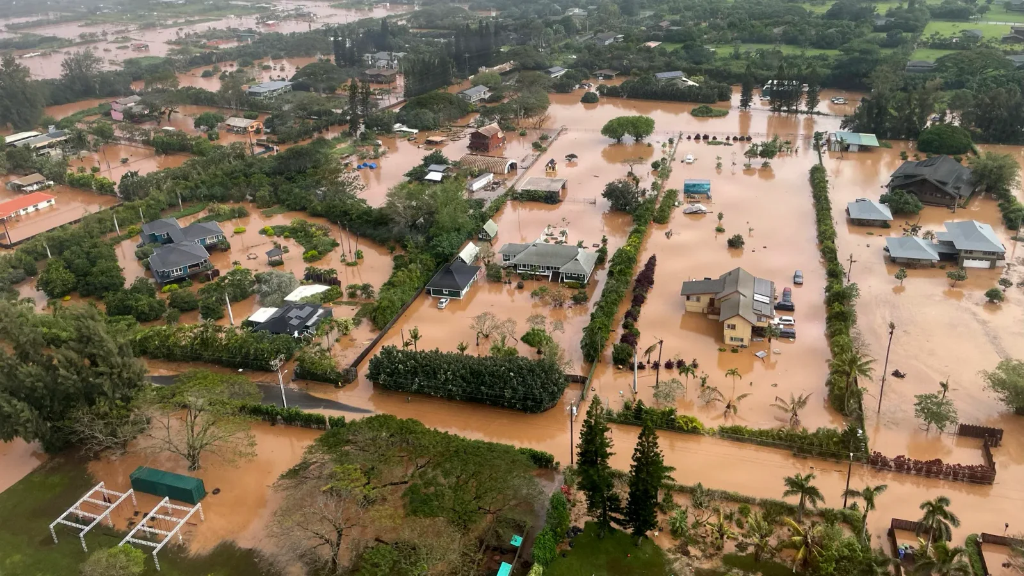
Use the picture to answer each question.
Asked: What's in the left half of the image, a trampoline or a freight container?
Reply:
freight container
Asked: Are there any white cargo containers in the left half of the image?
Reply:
No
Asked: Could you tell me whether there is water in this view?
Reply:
Yes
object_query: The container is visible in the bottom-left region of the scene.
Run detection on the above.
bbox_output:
[130,466,206,501]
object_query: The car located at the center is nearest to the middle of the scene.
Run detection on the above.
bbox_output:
[436,298,451,310]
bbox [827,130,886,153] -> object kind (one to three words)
shed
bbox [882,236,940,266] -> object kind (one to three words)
building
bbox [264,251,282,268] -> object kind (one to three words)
gazebo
